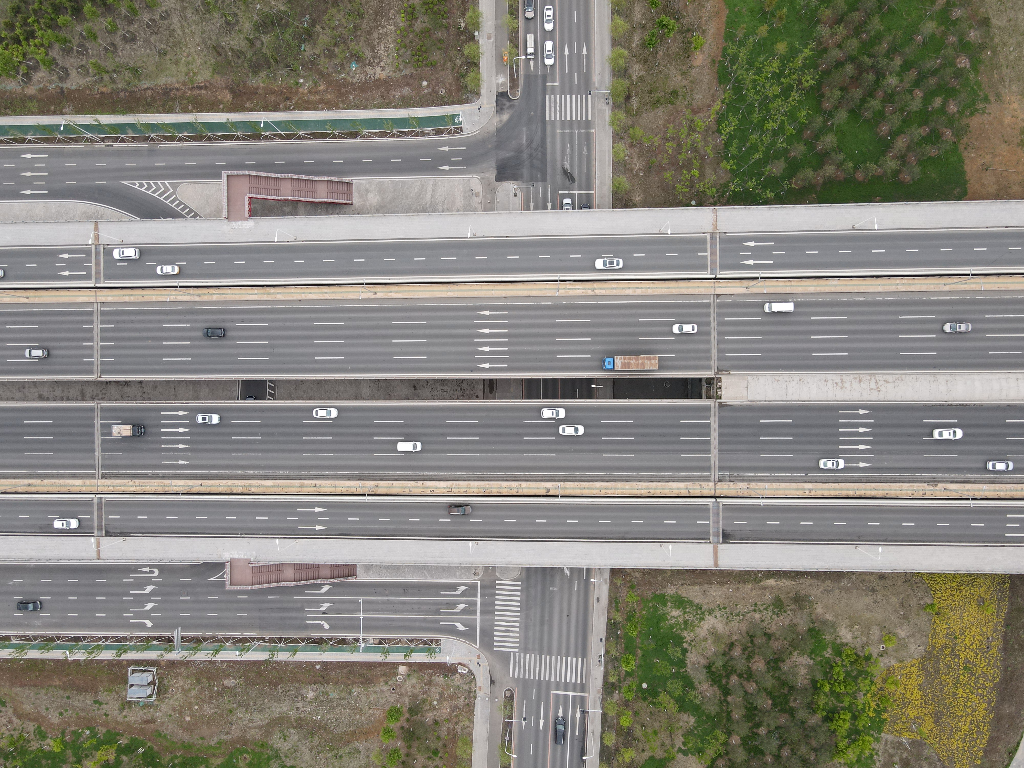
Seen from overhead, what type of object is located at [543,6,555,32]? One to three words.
vehicle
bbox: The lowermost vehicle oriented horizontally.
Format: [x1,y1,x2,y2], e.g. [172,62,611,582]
[17,600,43,612]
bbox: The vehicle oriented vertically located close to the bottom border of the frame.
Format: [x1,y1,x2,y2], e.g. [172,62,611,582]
[554,717,567,745]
